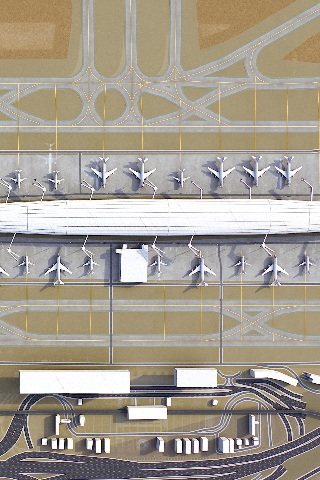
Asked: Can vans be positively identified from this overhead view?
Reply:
No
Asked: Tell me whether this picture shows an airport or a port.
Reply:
airport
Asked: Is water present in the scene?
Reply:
No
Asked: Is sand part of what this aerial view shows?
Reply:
Yes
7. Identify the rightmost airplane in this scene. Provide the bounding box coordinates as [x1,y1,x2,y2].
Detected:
[300,255,317,273]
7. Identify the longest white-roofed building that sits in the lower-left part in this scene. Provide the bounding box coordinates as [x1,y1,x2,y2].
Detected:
[19,368,130,394]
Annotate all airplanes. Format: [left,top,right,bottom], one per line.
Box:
[83,255,100,274]
[190,255,218,287]
[130,157,157,188]
[210,156,237,187]
[48,170,65,189]
[263,255,291,287]
[173,169,191,187]
[276,155,304,187]
[150,255,168,274]
[46,254,73,285]
[235,255,252,274]
[18,254,35,273]
[244,155,271,187]
[0,265,9,276]
[91,156,118,187]
[300,255,317,273]
[10,169,27,188]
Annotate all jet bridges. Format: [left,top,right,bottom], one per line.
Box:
[143,178,158,199]
[236,179,252,199]
[80,179,95,199]
[81,235,95,258]
[257,234,274,256]
[32,179,47,202]
[7,233,20,261]
[149,236,165,257]
[186,235,202,256]
[0,177,12,203]
[188,181,203,199]
[296,178,313,202]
